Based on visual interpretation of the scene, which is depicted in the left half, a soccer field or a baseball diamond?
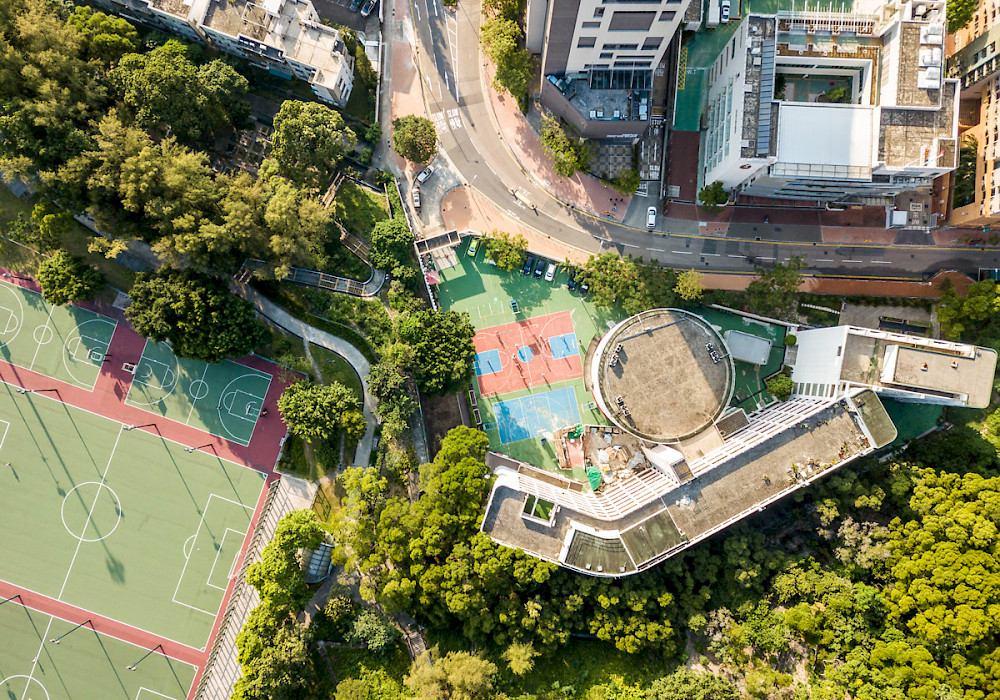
soccer field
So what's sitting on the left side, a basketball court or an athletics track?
basketball court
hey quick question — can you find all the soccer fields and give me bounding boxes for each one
[0,380,267,653]
[0,597,197,700]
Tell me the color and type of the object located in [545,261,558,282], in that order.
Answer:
white vehicle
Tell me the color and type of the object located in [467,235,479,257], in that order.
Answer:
green vehicle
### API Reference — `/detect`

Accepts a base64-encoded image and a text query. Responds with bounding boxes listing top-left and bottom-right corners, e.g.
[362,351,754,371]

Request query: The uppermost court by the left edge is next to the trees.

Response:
[0,280,116,391]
